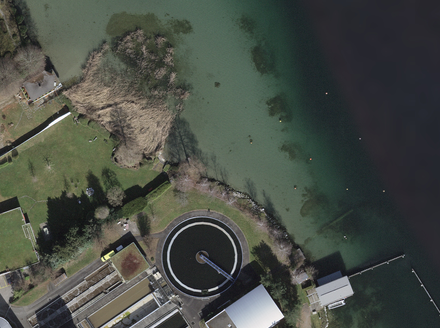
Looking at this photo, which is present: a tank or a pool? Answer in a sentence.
It is a tank that can be seen here.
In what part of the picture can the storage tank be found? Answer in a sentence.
The storage tank sits in the bottom section of the image.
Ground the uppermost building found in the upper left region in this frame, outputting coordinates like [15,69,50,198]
[22,72,62,102]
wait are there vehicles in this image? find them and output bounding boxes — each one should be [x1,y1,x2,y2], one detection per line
[102,250,116,262]
[5,274,12,286]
